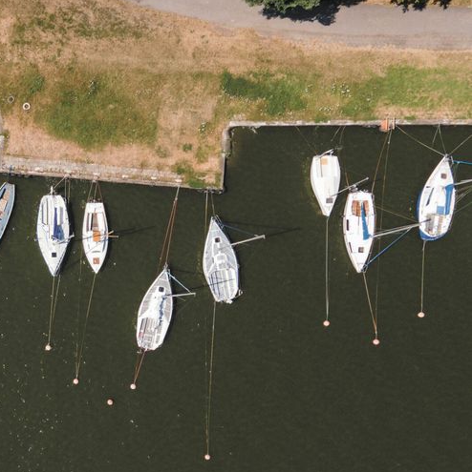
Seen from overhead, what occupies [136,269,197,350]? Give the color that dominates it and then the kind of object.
white boat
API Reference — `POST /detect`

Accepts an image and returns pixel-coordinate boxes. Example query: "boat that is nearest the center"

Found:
[202,217,265,305]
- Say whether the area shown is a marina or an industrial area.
marina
